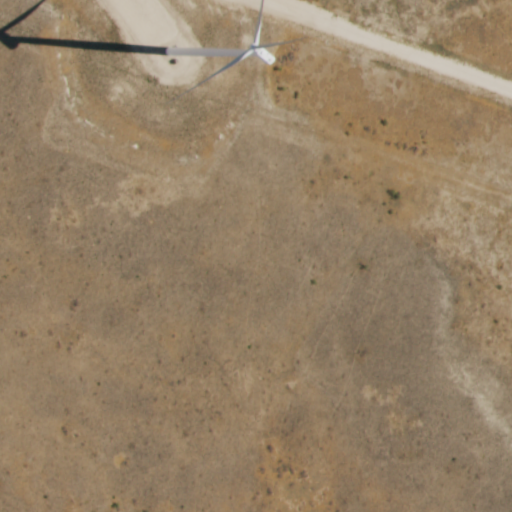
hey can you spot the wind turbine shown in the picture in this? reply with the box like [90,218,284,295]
[164,0,306,103]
